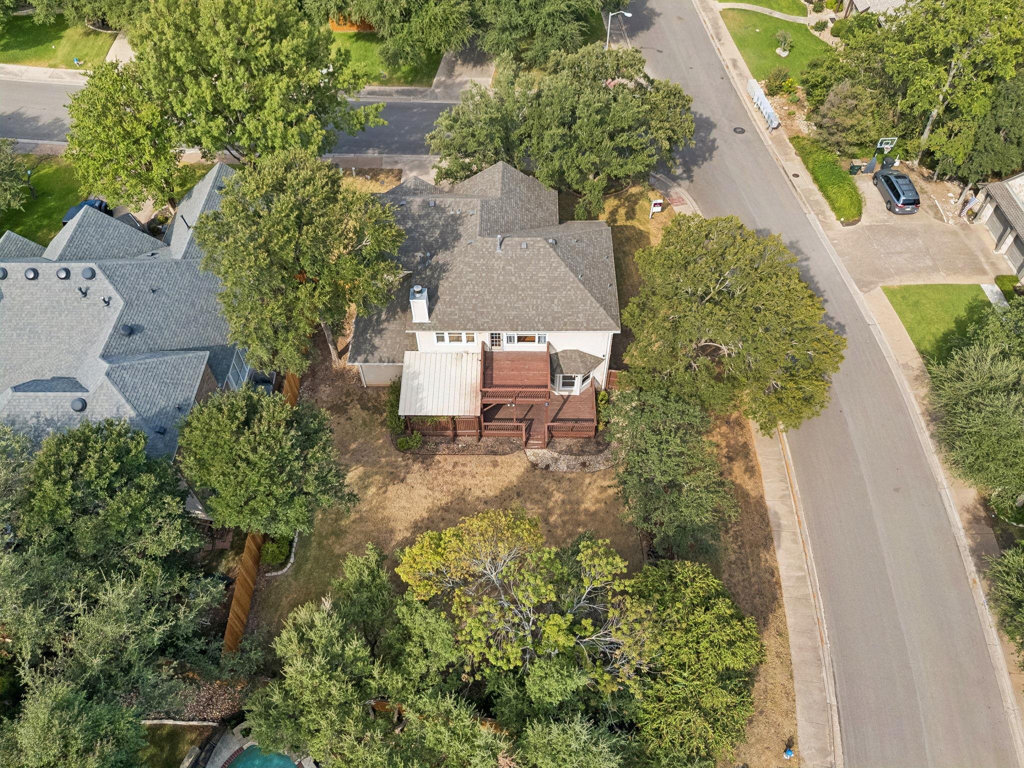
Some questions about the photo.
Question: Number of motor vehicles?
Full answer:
My tally gives 2 motor vehicles in this view.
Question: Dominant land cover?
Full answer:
The bulk of the photo consists of trees.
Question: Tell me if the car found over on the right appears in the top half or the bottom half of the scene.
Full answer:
The car found over on the right sits in the top half of the picture.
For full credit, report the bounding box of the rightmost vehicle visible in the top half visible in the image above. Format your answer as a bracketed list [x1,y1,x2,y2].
[875,164,922,210]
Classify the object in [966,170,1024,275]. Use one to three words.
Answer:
house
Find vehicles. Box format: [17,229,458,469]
[60,193,139,224]
[875,164,922,210]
